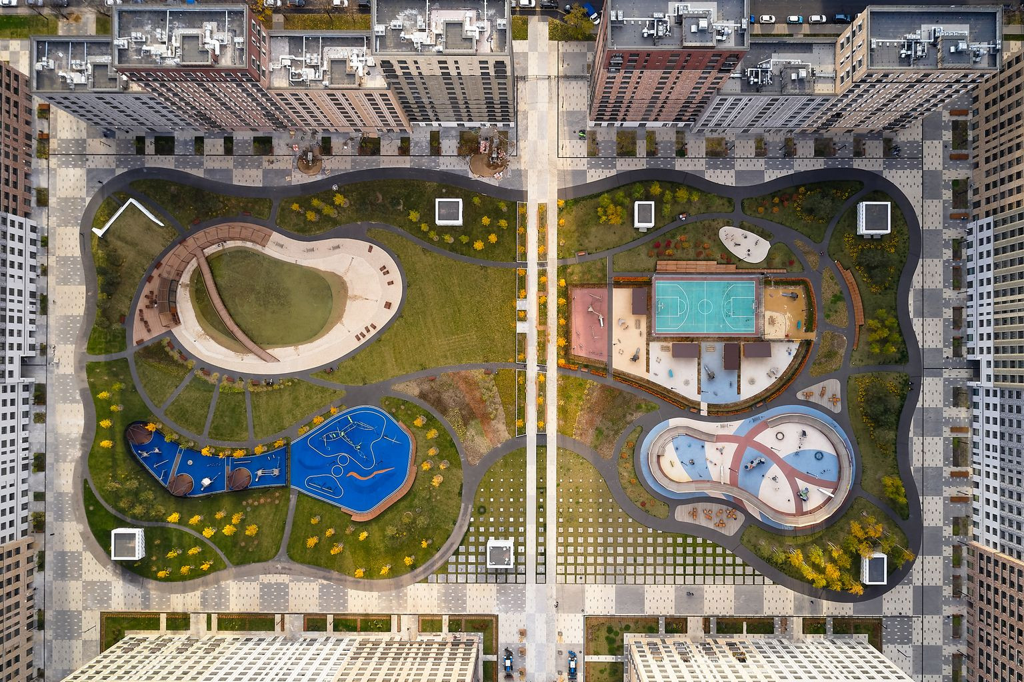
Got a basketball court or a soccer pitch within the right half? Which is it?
basketball court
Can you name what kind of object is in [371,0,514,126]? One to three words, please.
building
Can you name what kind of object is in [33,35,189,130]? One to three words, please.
building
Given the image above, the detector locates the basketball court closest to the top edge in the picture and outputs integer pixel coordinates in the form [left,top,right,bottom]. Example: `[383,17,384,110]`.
[652,275,765,336]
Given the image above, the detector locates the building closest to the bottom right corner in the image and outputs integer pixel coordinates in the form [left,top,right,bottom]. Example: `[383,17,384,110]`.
[967,543,1024,682]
